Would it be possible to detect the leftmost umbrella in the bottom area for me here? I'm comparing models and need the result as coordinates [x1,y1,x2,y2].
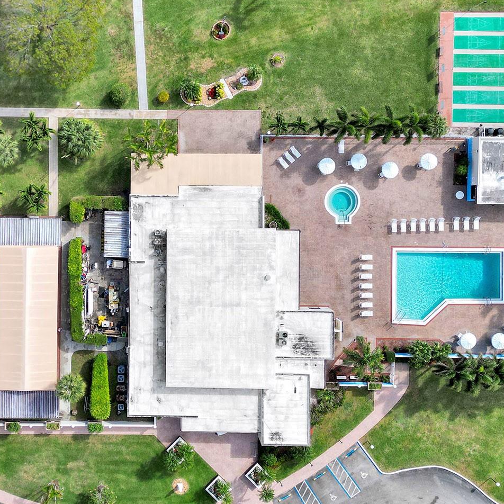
[458,332,475,349]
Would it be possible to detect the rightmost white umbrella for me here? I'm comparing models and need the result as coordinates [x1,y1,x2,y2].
[490,332,504,349]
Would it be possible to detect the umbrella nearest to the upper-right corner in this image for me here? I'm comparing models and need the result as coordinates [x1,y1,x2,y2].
[419,154,437,170]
